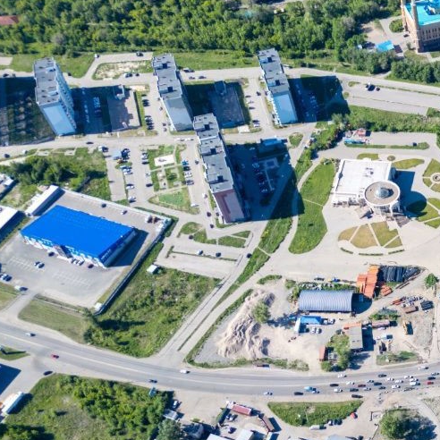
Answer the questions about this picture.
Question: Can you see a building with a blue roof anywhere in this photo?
Yes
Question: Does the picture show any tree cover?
Yes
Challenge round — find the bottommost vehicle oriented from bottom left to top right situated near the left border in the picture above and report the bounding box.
[0,393,28,414]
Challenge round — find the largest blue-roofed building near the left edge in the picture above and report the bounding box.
[20,205,137,268]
